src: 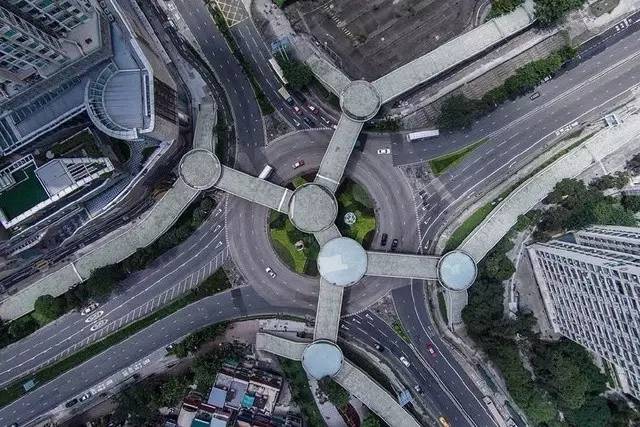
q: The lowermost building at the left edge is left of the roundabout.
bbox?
[0,156,119,229]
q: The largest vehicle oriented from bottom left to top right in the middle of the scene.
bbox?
[258,161,278,179]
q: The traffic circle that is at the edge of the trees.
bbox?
[226,128,426,320]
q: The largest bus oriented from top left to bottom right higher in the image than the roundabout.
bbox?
[266,57,289,86]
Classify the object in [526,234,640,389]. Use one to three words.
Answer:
building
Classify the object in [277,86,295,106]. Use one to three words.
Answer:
vehicle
